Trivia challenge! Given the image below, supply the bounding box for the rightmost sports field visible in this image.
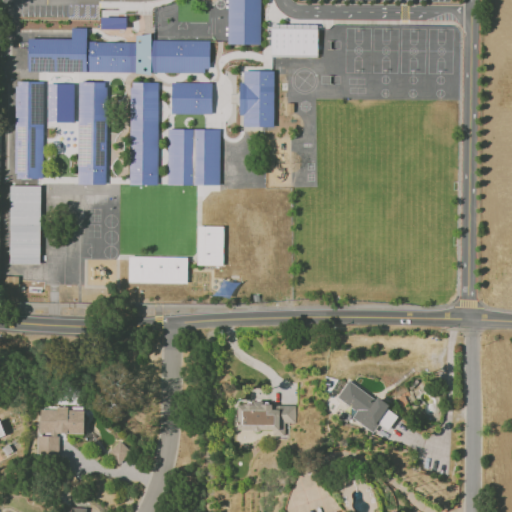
[295,100,458,302]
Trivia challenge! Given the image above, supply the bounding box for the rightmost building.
[340,384,398,432]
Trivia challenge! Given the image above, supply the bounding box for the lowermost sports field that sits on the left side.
[120,186,197,254]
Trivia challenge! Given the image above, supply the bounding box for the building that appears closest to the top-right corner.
[272,24,318,57]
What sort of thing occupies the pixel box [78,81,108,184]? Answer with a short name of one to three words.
building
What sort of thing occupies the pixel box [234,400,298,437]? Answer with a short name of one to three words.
house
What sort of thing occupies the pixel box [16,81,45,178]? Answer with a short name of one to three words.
building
